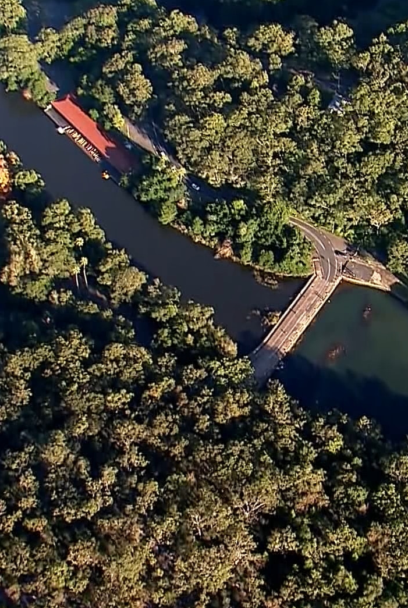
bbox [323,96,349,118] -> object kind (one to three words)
shed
